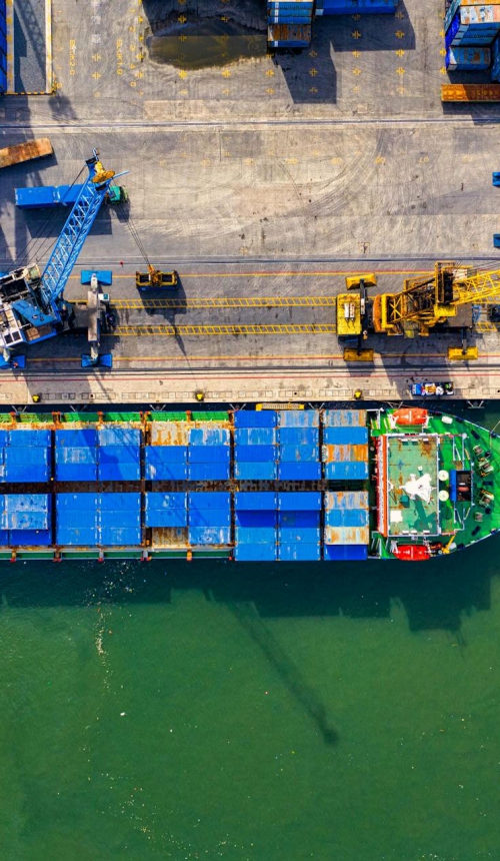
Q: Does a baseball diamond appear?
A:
No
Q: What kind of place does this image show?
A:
port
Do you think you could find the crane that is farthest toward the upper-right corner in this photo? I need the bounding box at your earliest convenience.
[336,262,500,362]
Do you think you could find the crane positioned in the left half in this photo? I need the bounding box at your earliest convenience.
[0,148,154,369]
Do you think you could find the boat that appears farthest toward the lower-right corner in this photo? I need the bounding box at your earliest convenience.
[397,545,429,560]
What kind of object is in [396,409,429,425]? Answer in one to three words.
boat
